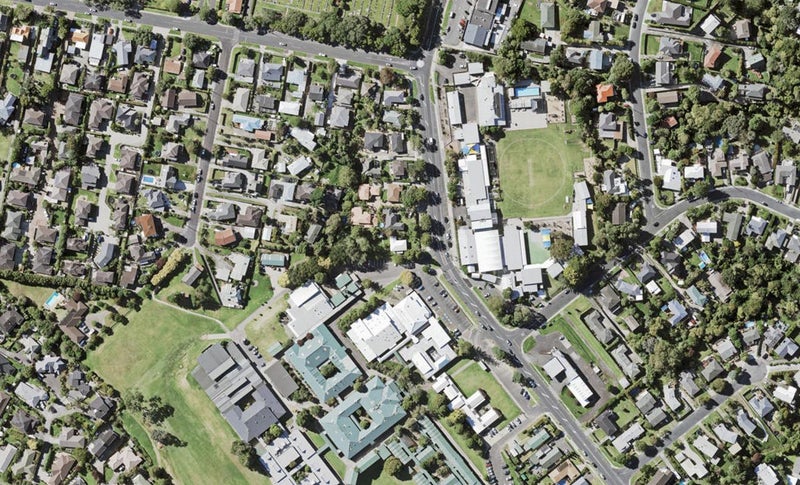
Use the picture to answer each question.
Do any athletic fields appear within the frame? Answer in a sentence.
Yes, the picture does show an athletic field.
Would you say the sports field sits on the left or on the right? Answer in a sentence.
The sports field is on the right side of the image.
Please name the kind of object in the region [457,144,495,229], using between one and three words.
building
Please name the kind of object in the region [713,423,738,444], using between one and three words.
house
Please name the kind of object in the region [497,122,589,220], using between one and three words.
sports field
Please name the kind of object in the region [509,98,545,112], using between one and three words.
building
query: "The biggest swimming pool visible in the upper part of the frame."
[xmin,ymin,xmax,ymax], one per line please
[512,84,542,99]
